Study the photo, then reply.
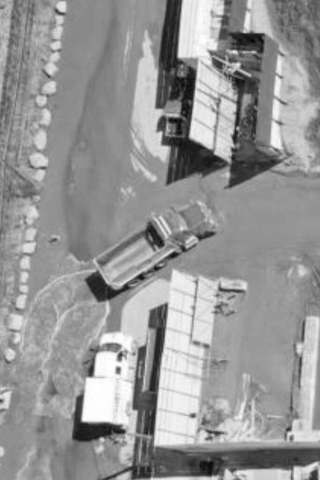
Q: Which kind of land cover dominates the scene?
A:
paved ground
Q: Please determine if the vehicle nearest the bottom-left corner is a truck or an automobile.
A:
truck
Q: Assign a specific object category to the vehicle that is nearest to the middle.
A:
truck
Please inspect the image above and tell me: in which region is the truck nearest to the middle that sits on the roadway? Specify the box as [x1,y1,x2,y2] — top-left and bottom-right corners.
[86,197,226,293]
